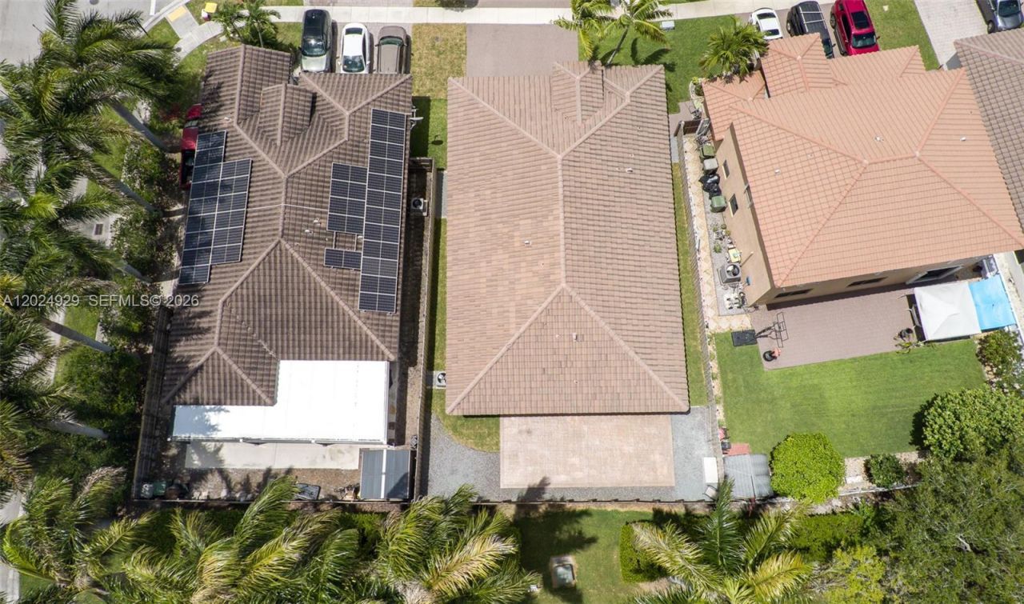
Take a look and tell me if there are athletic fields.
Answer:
No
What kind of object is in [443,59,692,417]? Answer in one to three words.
house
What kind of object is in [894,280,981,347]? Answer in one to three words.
gazebo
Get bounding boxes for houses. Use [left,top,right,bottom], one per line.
[443,59,692,417]
[161,43,413,406]
[700,31,1024,303]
